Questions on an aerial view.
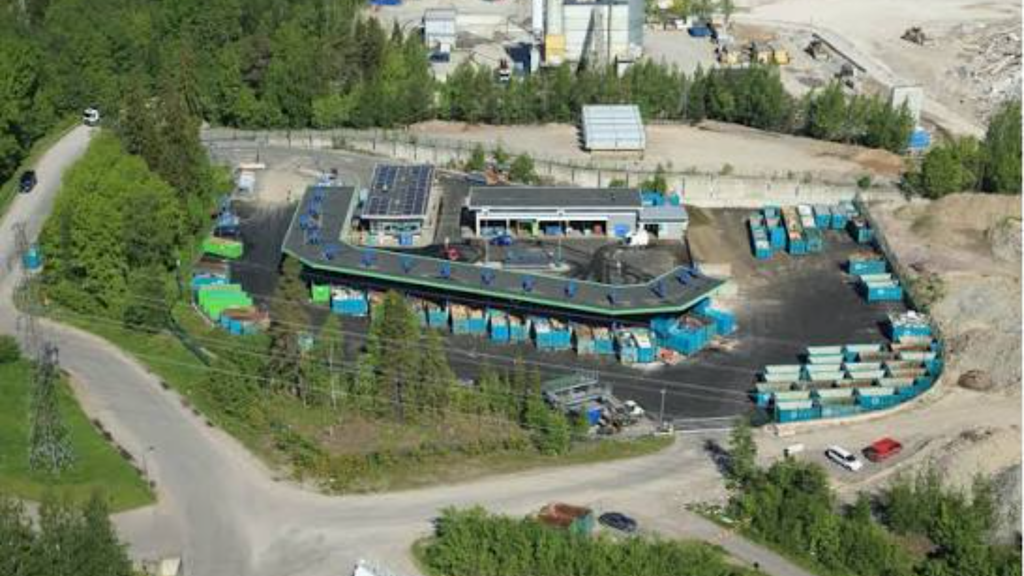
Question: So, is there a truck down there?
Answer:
Yes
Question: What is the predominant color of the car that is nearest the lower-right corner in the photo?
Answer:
red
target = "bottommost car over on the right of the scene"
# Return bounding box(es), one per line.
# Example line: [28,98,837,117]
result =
[598,510,640,535]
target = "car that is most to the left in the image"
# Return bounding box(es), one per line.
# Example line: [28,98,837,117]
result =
[12,177,39,193]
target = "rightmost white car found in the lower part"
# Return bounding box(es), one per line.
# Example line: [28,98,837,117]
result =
[823,443,864,471]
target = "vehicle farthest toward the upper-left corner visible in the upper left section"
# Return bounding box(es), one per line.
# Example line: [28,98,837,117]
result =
[81,108,100,129]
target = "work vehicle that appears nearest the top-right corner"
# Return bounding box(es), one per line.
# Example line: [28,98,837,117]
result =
[892,20,926,45]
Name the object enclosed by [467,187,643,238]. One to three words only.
building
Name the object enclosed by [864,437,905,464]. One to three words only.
car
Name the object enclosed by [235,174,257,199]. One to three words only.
truck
